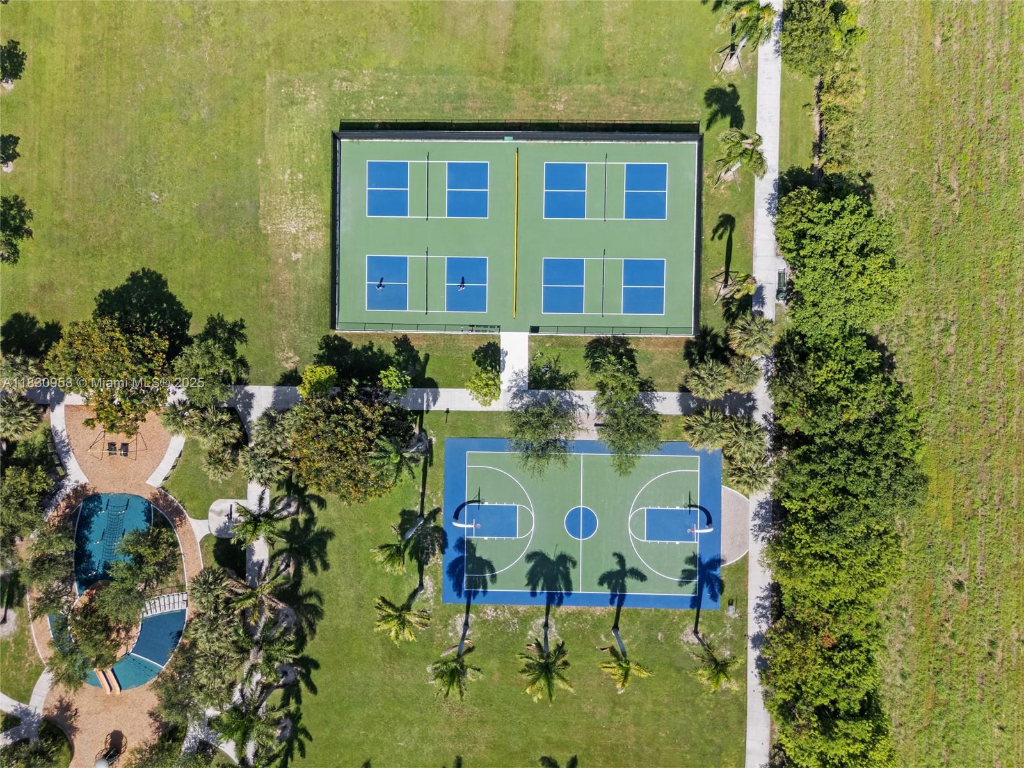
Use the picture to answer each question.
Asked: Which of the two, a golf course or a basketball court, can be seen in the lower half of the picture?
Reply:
basketball court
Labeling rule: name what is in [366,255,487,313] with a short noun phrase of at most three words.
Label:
sports court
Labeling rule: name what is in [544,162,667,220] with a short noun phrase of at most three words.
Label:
sports court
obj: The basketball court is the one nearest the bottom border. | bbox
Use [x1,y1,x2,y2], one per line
[443,438,722,610]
